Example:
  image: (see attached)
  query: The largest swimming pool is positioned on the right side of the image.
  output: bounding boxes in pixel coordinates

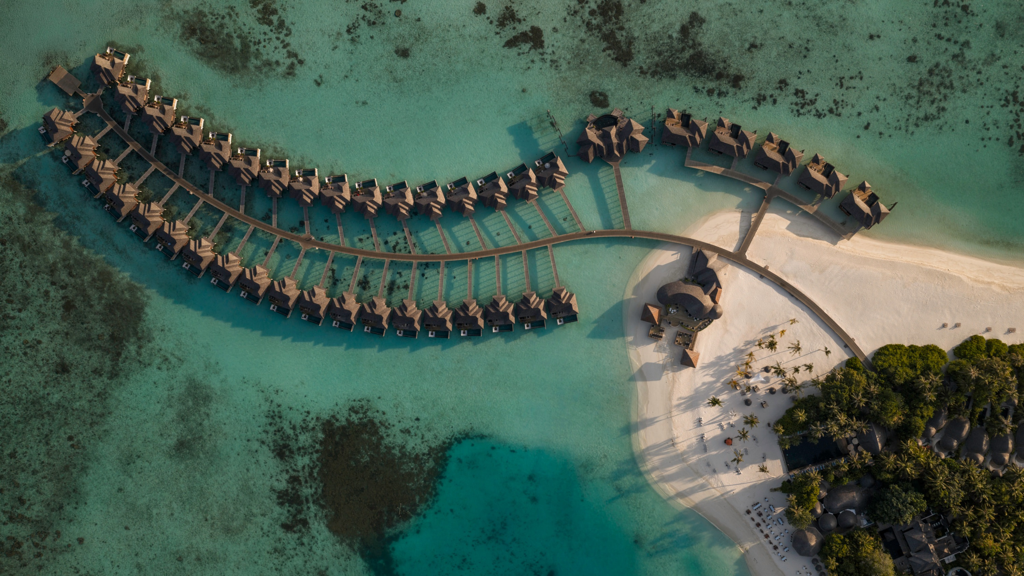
[780,423,856,478]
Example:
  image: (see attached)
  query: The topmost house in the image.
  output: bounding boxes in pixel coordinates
[90,47,130,89]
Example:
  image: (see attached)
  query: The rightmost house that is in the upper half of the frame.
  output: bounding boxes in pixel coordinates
[837,179,892,229]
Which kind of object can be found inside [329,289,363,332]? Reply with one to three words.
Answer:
house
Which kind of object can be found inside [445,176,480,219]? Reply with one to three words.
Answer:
house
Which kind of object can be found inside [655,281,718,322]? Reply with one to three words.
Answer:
building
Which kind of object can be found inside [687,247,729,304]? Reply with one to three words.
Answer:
building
